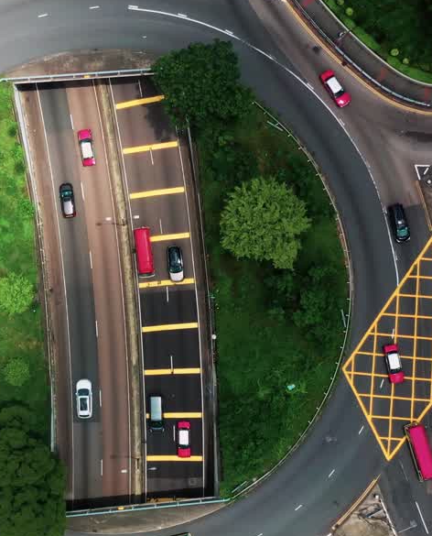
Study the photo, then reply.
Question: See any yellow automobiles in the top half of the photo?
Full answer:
No, I can find no yellow automobile in the top half of the photo.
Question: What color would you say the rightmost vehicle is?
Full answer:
From above, the rightmost vehicle appears pink.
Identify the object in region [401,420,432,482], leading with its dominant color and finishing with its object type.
pink vehicle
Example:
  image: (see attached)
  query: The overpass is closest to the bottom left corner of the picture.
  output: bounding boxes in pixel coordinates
[49,492,236,526]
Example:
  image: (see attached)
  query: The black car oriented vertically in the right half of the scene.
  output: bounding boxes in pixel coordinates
[387,202,410,243]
